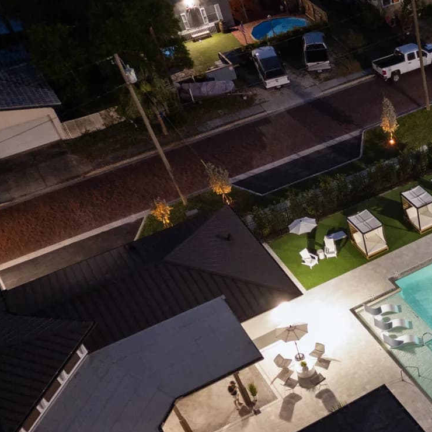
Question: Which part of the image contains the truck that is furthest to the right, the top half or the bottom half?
top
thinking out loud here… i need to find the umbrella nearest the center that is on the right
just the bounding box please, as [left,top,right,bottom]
[285,223,316,262]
